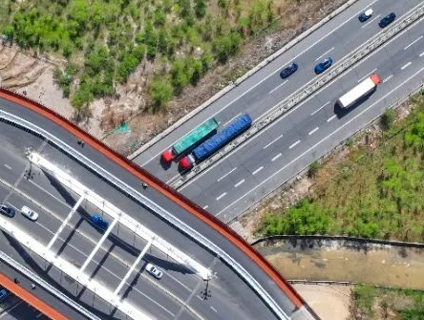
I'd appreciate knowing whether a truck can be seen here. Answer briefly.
Yes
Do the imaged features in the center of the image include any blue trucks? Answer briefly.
Yes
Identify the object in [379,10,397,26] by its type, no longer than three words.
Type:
car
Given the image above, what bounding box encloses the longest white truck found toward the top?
[335,69,385,107]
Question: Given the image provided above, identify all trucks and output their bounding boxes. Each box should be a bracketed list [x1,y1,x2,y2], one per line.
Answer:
[160,117,219,162]
[181,115,252,168]
[335,69,385,107]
